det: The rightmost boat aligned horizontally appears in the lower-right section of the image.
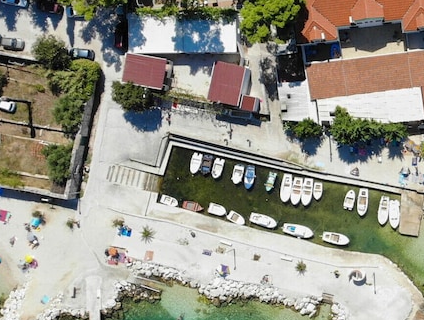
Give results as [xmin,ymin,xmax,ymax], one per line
[320,230,351,244]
